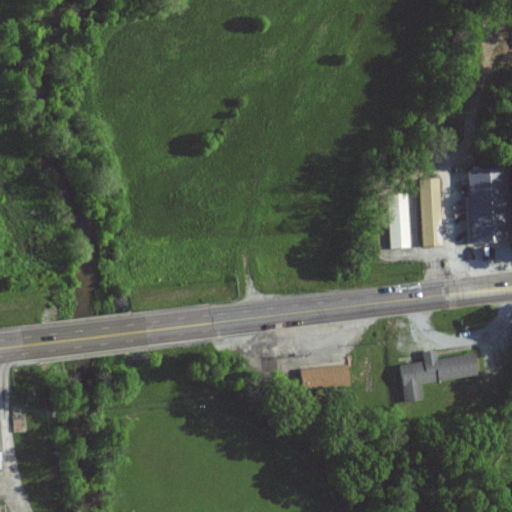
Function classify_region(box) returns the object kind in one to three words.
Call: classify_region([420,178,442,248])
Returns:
shed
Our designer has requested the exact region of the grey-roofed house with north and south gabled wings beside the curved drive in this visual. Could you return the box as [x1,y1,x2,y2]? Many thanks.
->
[400,349,476,401]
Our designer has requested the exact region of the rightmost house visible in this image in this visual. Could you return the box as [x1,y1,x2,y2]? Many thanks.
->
[468,172,510,244]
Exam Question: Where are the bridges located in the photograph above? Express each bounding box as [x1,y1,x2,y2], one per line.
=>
[20,311,148,365]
